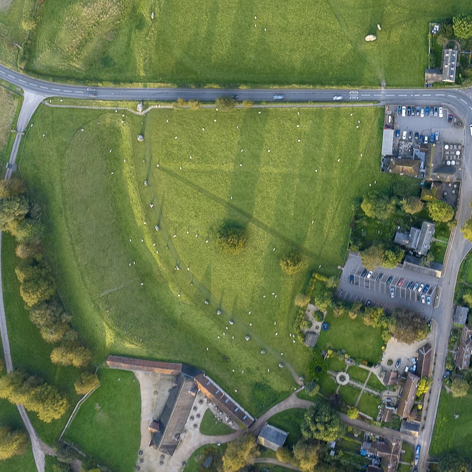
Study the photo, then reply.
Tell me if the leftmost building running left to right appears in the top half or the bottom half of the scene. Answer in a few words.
bottom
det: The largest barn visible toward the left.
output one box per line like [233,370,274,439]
[149,374,200,454]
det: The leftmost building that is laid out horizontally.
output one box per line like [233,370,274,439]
[105,353,183,375]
